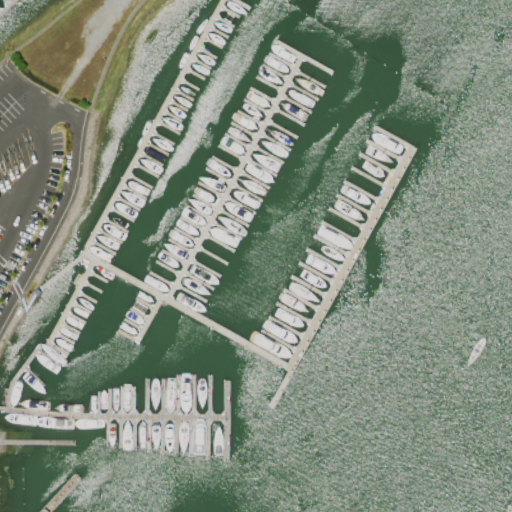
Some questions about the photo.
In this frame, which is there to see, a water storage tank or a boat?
boat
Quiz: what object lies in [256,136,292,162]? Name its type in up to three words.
boat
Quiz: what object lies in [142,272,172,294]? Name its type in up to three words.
boat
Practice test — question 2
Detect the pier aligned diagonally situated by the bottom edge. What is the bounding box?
[40,474,81,512]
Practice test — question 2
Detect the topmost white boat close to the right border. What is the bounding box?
[468,336,489,366]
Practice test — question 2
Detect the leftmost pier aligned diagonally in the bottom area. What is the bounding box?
[4,336,50,406]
